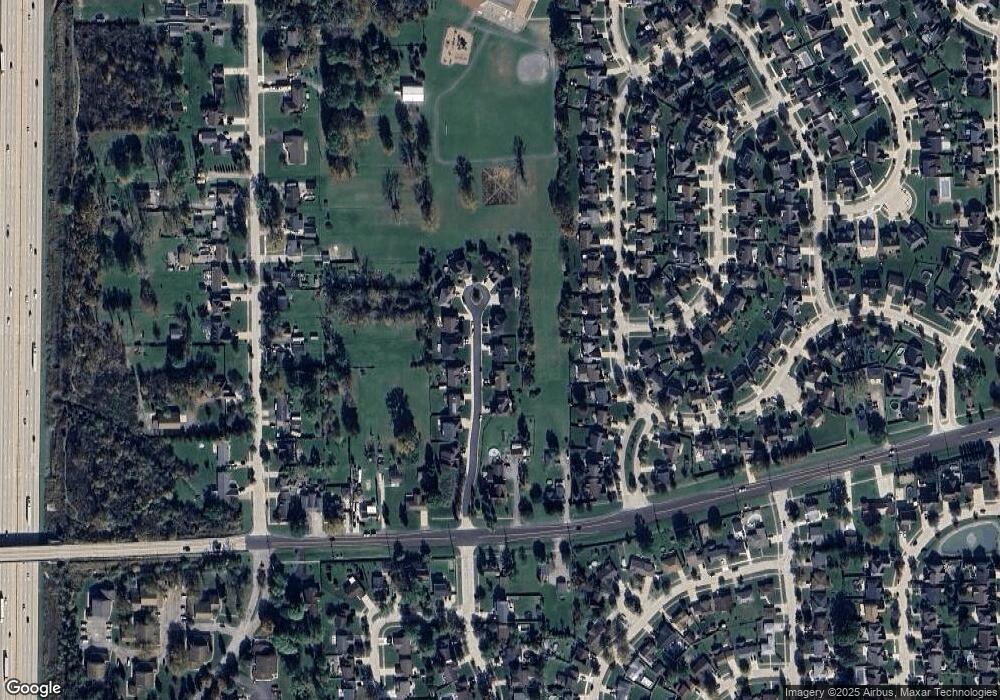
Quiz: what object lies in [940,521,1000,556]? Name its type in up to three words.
pond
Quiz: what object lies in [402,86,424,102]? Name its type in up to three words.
building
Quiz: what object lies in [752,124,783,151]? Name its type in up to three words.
house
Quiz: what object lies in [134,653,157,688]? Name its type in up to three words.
building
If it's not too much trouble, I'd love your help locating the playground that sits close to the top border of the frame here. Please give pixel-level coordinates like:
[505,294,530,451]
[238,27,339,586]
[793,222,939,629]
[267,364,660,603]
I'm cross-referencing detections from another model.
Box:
[441,27,473,65]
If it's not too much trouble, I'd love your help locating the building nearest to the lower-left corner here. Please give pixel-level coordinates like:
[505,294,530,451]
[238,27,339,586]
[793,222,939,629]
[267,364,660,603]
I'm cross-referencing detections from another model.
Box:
[86,646,107,677]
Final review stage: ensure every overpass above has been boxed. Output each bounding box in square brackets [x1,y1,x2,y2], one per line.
[0,538,246,559]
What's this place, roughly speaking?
residential area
